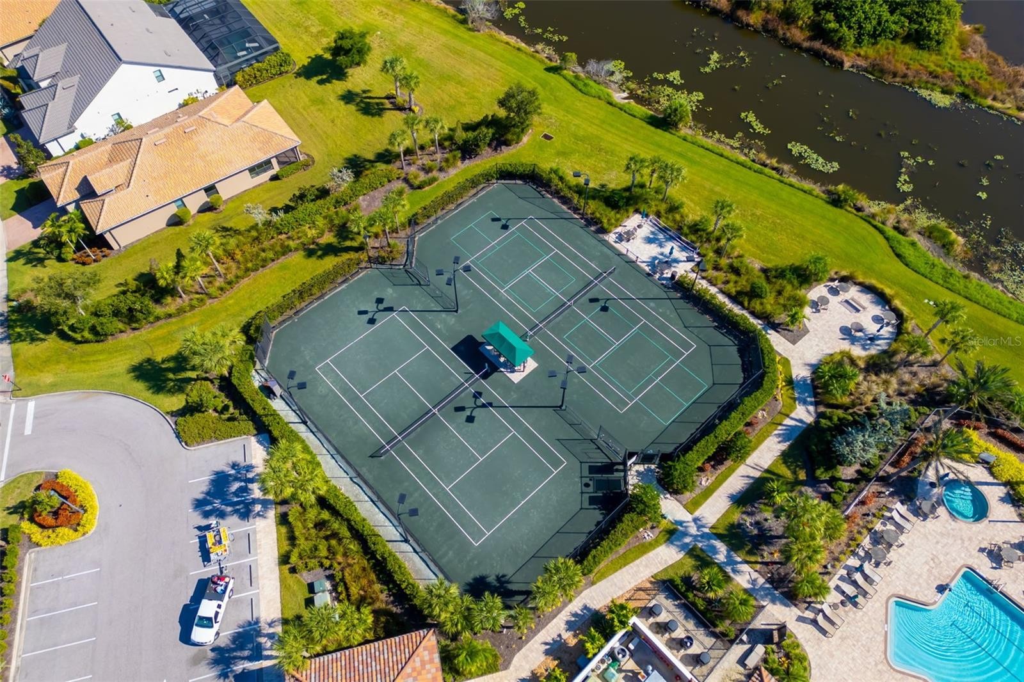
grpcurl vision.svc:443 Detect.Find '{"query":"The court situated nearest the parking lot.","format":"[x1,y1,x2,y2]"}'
[266,268,627,605]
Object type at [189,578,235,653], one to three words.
truck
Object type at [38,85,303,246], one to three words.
house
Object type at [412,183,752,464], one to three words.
tennis court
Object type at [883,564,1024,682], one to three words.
swimming pool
